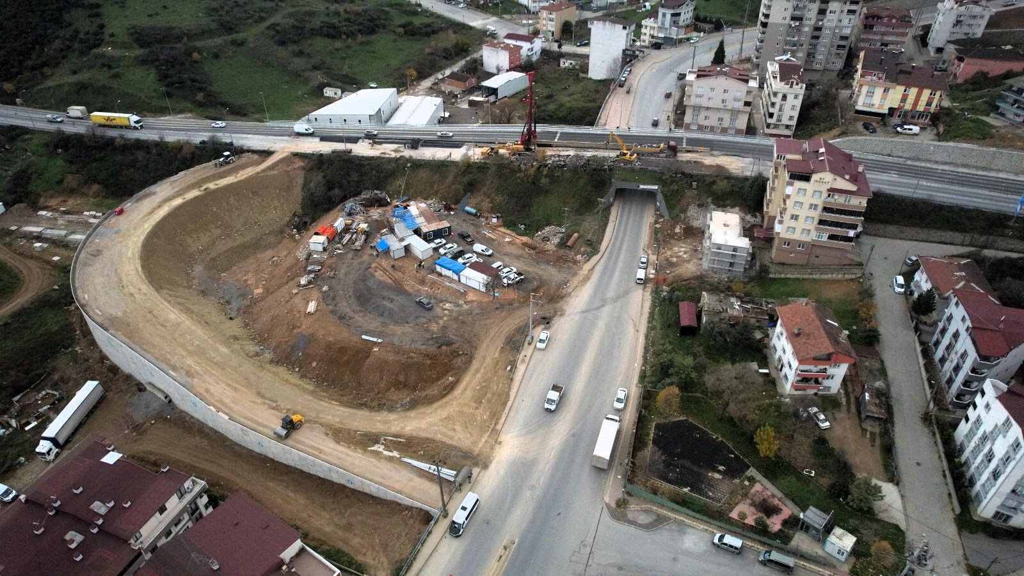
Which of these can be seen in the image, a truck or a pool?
truck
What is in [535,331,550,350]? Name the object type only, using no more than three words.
car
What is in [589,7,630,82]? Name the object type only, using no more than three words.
building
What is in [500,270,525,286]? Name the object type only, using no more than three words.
vehicle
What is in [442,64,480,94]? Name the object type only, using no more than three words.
house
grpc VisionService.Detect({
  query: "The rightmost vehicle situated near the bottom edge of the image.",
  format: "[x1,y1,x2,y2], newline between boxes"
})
[758,549,795,573]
